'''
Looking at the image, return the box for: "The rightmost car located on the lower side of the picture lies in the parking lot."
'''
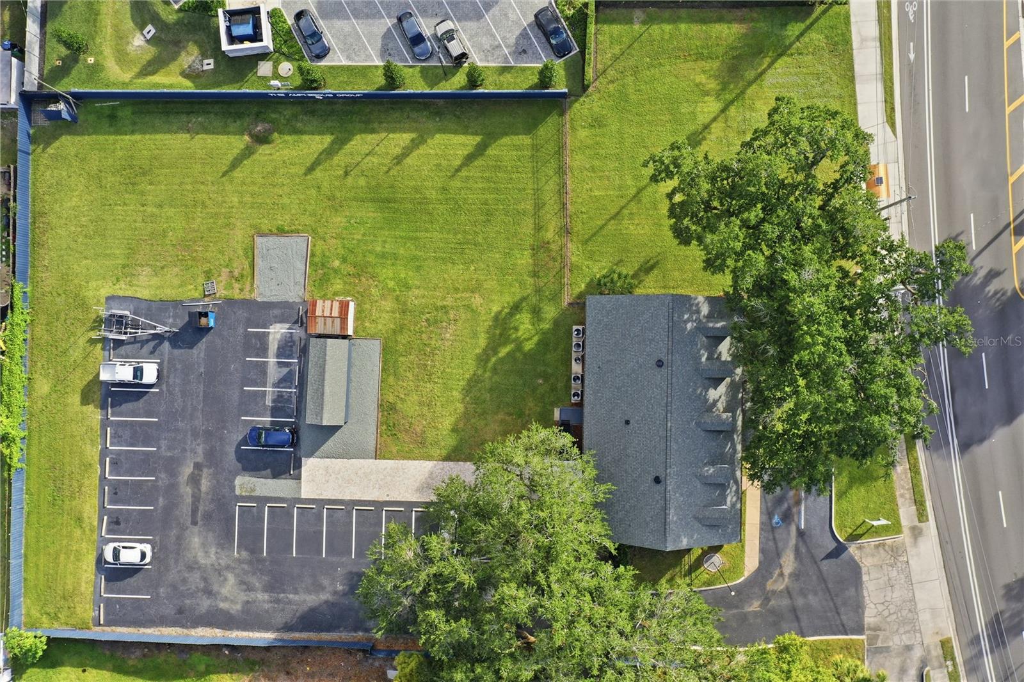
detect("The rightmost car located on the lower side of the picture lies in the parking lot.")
[248,425,298,449]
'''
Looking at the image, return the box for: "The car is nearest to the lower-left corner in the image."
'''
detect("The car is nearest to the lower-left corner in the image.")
[105,542,154,567]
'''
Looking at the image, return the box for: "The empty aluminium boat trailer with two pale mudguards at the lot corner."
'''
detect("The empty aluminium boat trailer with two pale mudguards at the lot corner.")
[85,305,178,339]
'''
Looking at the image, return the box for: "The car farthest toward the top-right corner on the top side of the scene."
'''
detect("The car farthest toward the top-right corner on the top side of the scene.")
[535,7,572,58]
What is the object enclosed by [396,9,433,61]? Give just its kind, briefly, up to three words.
car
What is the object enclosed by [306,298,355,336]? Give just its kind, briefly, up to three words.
shed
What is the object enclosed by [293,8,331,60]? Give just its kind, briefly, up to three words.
car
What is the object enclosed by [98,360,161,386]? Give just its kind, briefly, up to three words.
truck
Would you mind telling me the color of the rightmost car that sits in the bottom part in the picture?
blue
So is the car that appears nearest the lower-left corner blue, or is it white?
white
